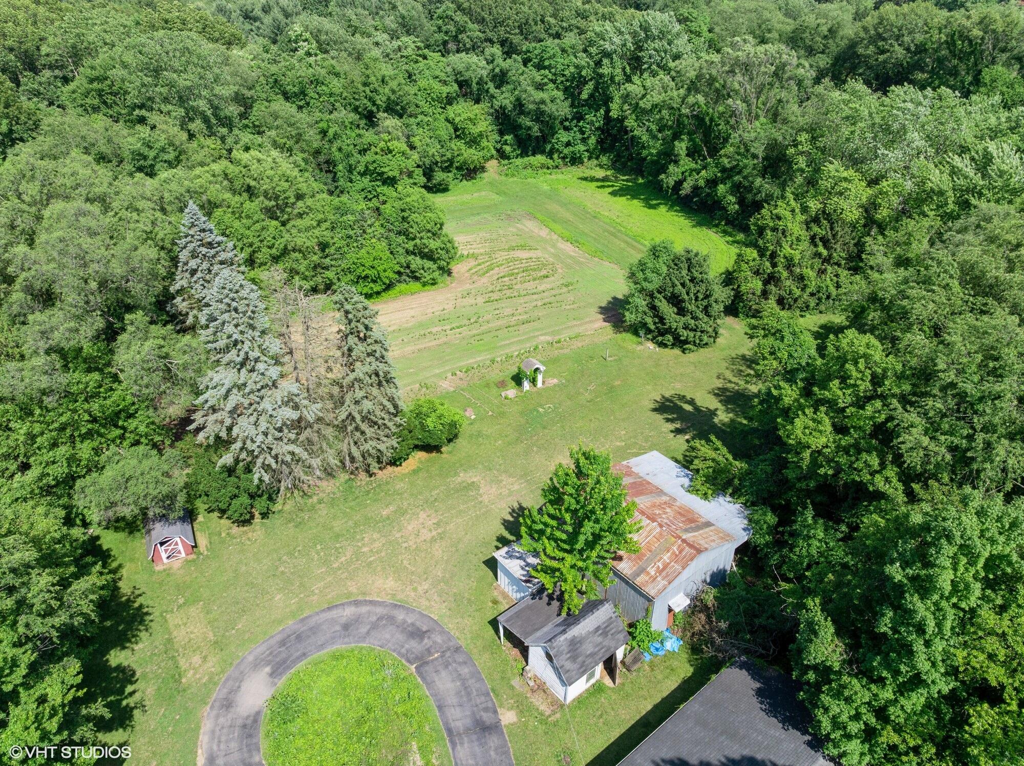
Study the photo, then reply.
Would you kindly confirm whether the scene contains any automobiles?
No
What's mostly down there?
trees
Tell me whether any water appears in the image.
No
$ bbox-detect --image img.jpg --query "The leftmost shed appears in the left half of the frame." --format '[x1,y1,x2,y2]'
[144,503,195,566]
